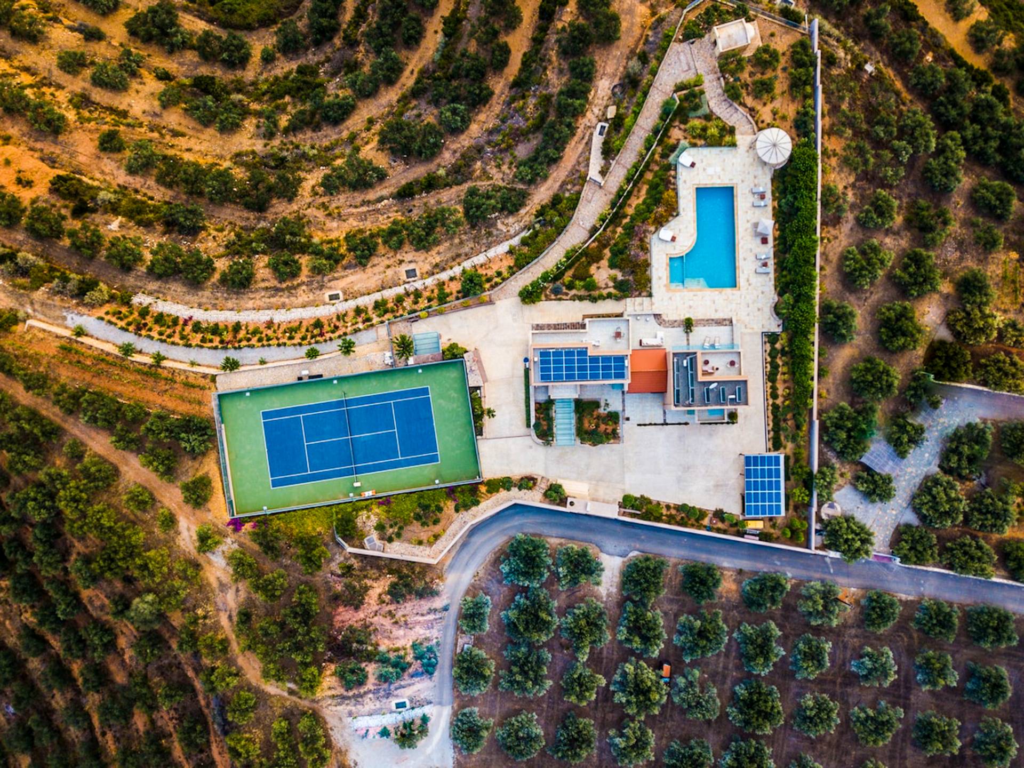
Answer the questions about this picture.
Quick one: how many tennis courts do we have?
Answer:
1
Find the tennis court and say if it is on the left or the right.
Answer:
left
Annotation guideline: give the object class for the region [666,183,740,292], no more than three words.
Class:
swimming pool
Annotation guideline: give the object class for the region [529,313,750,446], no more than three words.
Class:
house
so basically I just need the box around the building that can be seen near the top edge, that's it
[707,18,753,63]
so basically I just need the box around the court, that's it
[219,361,480,514]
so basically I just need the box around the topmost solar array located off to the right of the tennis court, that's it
[539,349,626,381]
